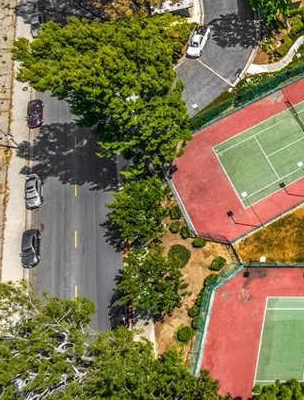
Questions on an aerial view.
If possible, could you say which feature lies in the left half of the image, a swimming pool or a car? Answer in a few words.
car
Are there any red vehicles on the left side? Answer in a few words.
No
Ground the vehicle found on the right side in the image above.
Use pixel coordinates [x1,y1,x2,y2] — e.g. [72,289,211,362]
[189,30,210,57]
